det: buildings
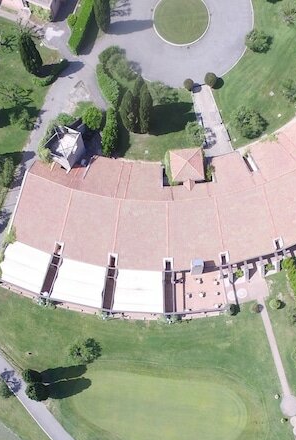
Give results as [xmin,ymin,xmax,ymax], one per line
[11,125,296,276]
[27,0,64,20]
